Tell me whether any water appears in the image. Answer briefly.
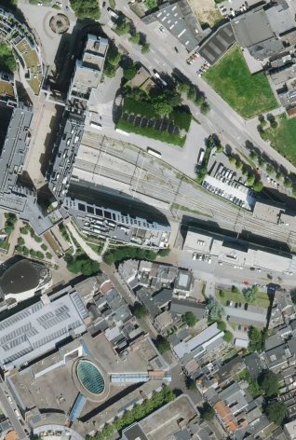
No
